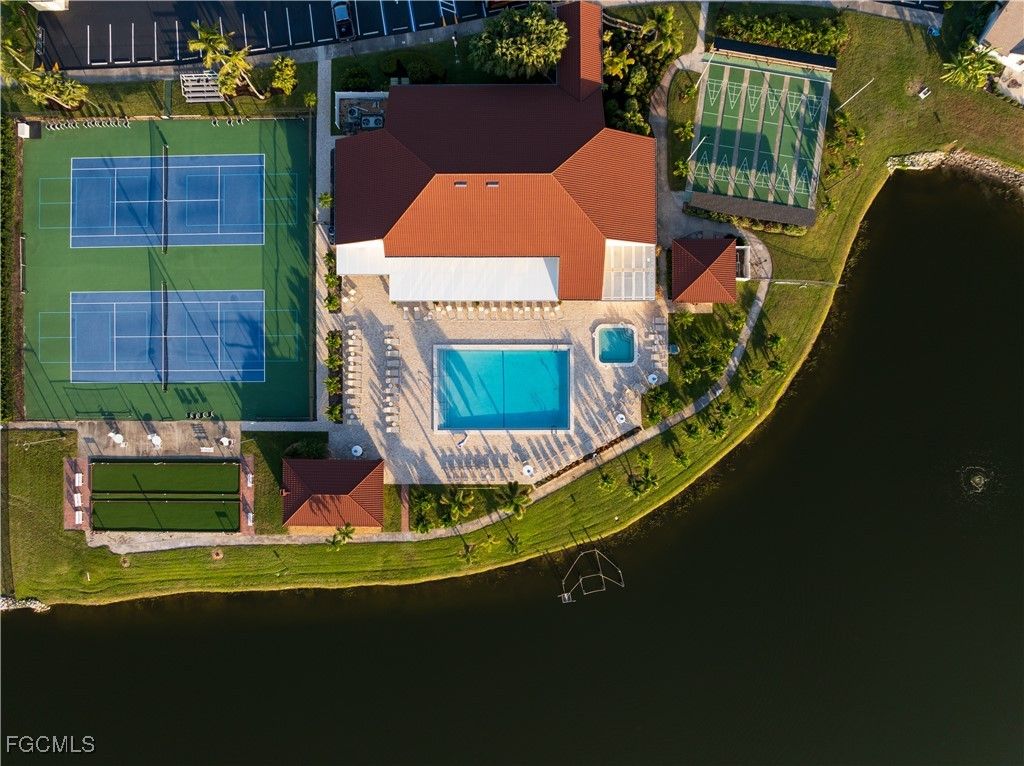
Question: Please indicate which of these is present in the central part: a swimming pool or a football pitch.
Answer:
swimming pool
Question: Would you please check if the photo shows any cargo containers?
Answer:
No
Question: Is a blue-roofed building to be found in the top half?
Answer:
No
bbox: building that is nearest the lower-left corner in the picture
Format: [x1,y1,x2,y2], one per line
[282,459,385,526]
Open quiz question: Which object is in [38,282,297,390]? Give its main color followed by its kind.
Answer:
blue tennis court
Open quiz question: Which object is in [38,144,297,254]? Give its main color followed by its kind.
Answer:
blue tennis court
